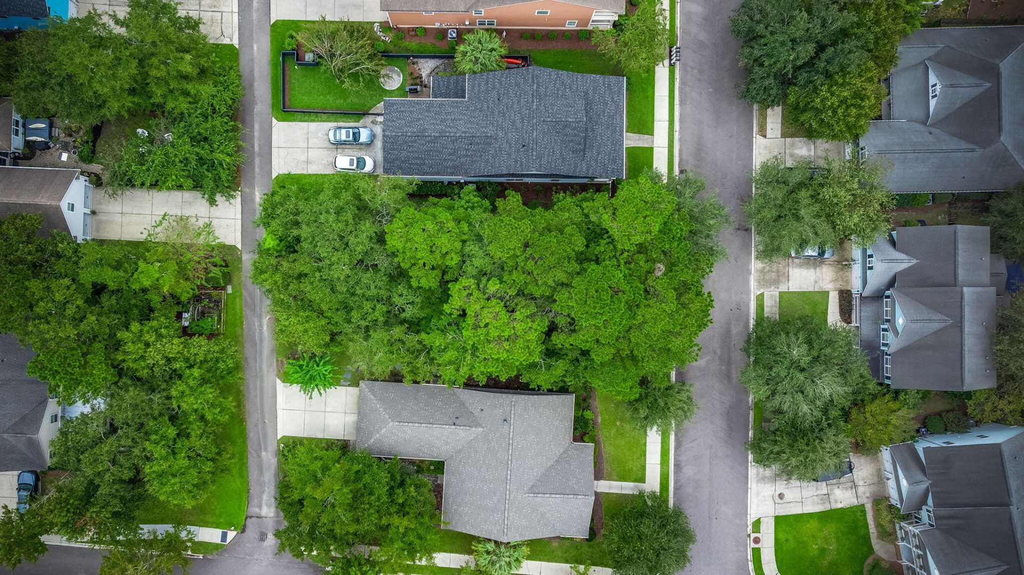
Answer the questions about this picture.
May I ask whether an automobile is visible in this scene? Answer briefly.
Yes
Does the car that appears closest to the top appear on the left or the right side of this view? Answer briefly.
left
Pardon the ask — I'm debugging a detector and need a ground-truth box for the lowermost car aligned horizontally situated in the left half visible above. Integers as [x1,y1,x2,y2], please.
[333,153,375,173]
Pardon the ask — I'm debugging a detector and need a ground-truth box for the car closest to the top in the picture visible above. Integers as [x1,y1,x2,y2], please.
[328,125,373,145]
